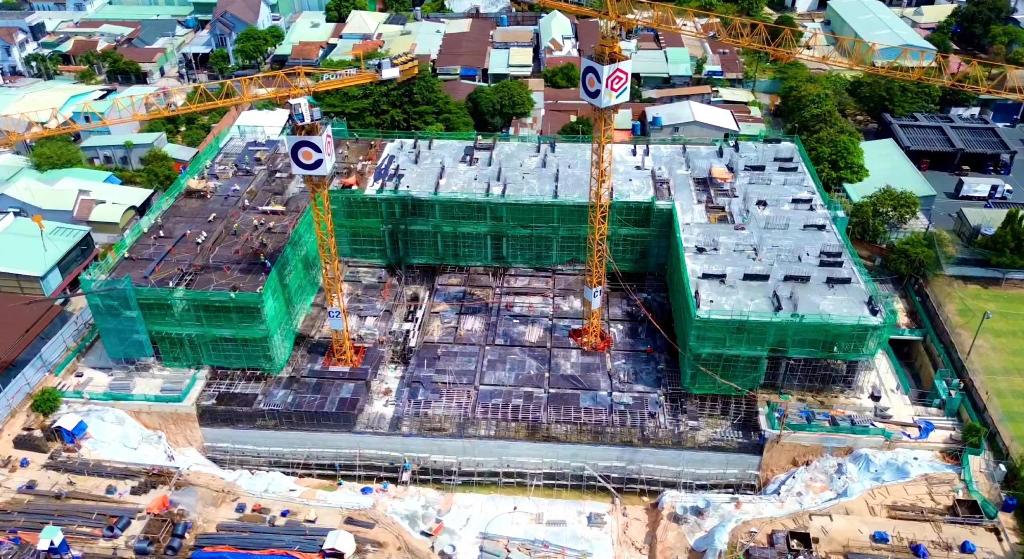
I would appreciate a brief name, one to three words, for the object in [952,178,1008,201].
truck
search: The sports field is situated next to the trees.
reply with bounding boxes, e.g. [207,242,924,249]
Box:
[948,280,1024,441]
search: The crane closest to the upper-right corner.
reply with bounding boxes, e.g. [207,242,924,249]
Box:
[478,0,1024,360]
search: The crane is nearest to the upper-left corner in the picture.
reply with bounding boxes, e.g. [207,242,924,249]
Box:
[0,55,417,370]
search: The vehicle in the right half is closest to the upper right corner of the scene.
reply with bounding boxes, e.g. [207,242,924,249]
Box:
[996,156,1014,171]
